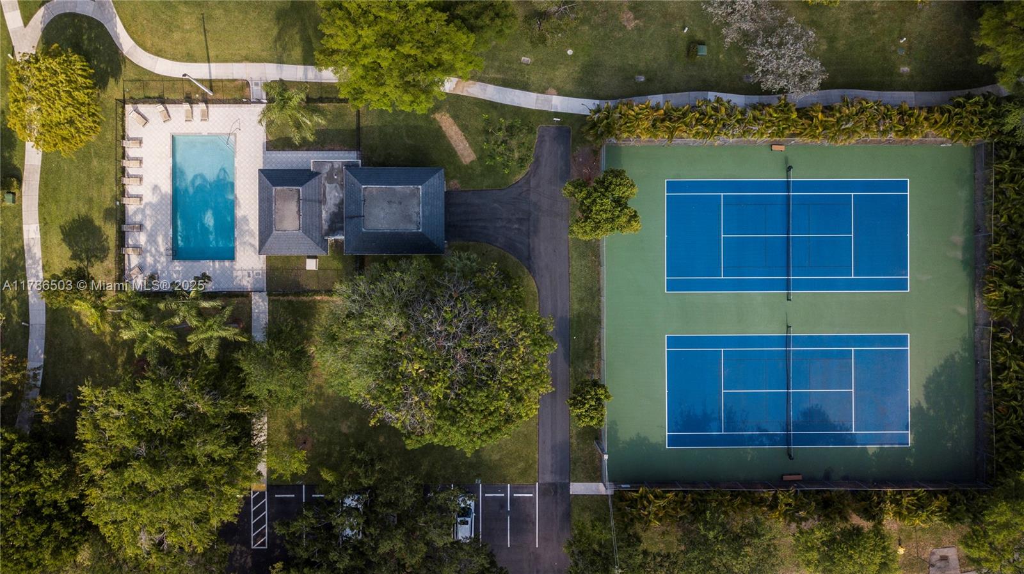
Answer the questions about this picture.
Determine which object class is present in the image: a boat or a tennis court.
tennis court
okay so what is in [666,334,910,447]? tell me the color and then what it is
blue tennis court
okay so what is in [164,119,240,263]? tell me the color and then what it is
blue swimming pool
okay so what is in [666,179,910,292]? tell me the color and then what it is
blue tennis court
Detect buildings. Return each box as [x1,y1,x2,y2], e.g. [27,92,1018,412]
[258,159,448,255]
